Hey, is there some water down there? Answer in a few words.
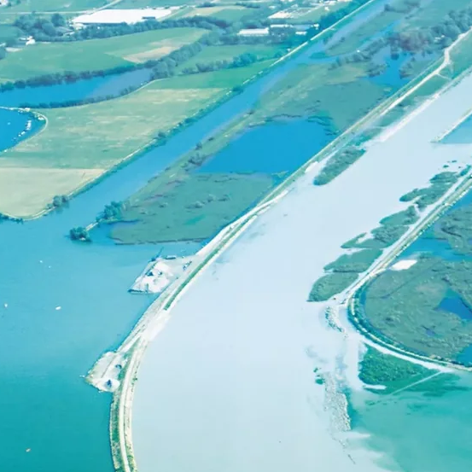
Yes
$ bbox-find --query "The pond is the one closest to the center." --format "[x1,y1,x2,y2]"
[198,117,330,173]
